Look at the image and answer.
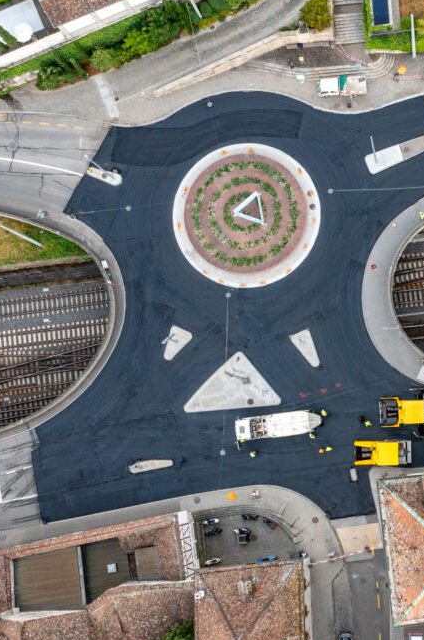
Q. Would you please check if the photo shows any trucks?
Yes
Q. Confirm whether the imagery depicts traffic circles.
Yes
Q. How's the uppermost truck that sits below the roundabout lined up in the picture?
from left to right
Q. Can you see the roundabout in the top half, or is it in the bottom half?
top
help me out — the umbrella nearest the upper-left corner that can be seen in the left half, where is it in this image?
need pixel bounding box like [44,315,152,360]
[13,23,35,43]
